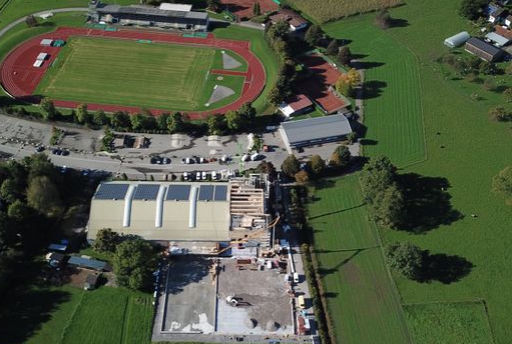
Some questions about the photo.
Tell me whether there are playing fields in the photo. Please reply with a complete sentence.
Yes, looking at the shot, I can spot a playing field.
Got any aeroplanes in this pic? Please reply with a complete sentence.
No, I can't see a single aeroplane in this photo.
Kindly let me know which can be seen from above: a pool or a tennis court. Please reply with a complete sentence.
I can see a tennis court in this picture.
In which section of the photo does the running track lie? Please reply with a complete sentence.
Look in the top left portion of the view to spot the running track.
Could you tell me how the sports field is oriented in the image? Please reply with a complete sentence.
What the image shows is the sports field lying horizontally.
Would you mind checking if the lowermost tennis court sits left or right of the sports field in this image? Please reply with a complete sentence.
The lowermost tennis court appears to the right of the sports field in this view.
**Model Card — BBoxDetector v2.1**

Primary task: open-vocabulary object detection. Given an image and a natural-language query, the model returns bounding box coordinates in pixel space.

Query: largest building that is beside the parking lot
[88,180,228,249]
